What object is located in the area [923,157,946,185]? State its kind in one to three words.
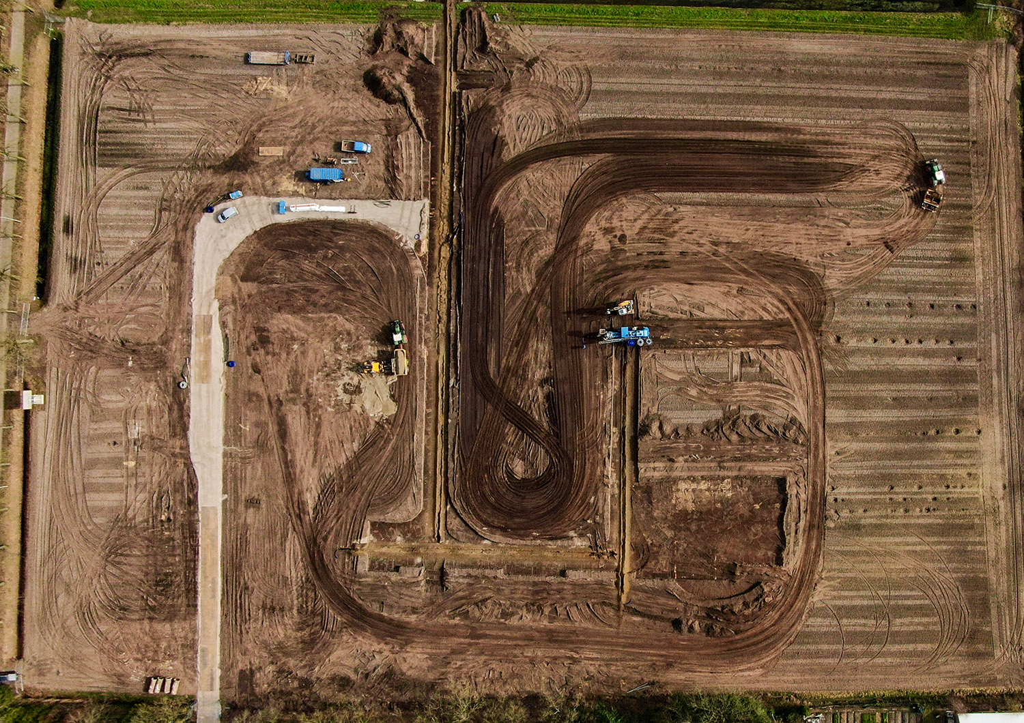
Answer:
work vehicle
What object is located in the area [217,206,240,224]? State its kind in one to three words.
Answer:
vehicle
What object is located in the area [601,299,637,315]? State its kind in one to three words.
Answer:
work vehicle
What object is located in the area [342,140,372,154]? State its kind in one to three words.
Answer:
vehicle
